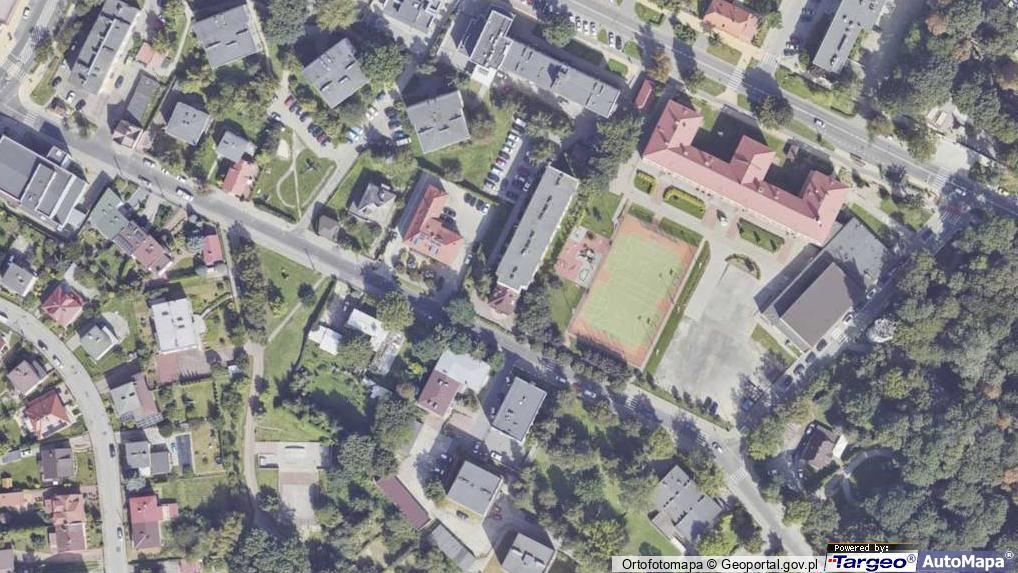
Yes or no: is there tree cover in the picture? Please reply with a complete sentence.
Yes, there is tree cover in the image.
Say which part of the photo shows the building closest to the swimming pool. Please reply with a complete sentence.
The building closest to the swimming pool is located in the bottom left region of the scene.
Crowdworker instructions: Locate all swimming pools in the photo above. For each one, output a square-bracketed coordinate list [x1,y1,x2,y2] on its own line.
[177,434,196,477]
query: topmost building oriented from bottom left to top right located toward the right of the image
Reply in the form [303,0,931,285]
[812,0,890,76]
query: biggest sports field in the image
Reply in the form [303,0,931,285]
[565,211,706,371]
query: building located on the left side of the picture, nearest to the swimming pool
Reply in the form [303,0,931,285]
[151,450,172,475]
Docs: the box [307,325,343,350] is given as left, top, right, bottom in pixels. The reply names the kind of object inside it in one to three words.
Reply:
shed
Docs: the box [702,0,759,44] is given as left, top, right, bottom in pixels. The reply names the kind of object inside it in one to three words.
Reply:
house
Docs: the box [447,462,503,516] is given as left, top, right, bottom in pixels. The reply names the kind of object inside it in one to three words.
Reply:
building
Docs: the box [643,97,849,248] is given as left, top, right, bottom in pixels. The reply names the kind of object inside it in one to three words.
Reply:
building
